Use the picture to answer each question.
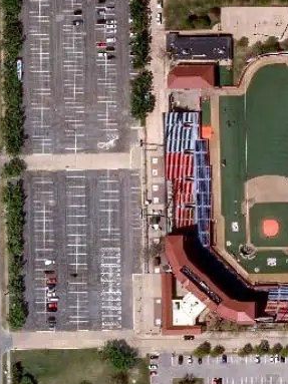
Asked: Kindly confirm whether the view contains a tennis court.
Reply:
No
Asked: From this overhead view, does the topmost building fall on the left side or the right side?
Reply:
right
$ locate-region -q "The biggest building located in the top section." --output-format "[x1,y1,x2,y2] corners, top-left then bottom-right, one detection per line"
[166,34,234,60]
